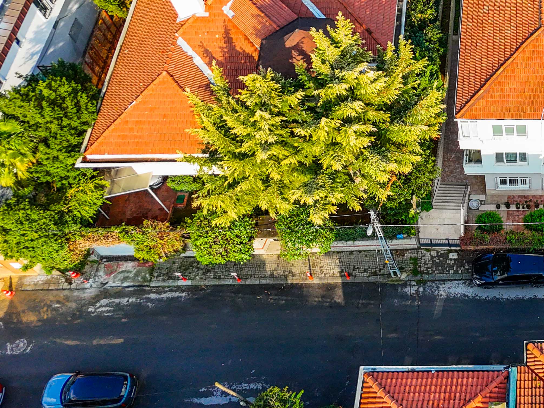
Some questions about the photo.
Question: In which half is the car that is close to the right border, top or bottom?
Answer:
bottom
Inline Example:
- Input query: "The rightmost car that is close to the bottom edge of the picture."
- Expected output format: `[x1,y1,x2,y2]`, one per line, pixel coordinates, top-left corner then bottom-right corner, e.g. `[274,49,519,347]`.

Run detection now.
[40,364,144,408]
